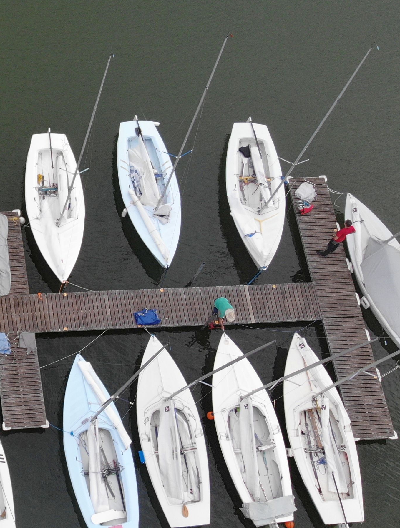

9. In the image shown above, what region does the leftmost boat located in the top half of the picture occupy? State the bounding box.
[27,52,113,282]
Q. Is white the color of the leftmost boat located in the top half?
Yes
